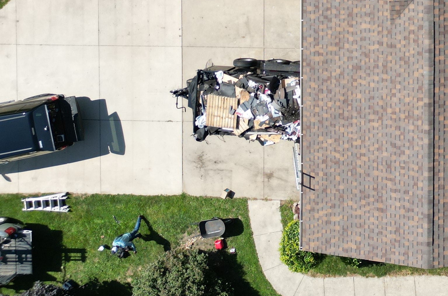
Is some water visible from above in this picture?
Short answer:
No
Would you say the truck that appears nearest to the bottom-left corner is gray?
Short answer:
Yes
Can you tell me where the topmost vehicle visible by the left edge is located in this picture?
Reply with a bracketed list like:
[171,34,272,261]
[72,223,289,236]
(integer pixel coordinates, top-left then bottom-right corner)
[0,93,84,163]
